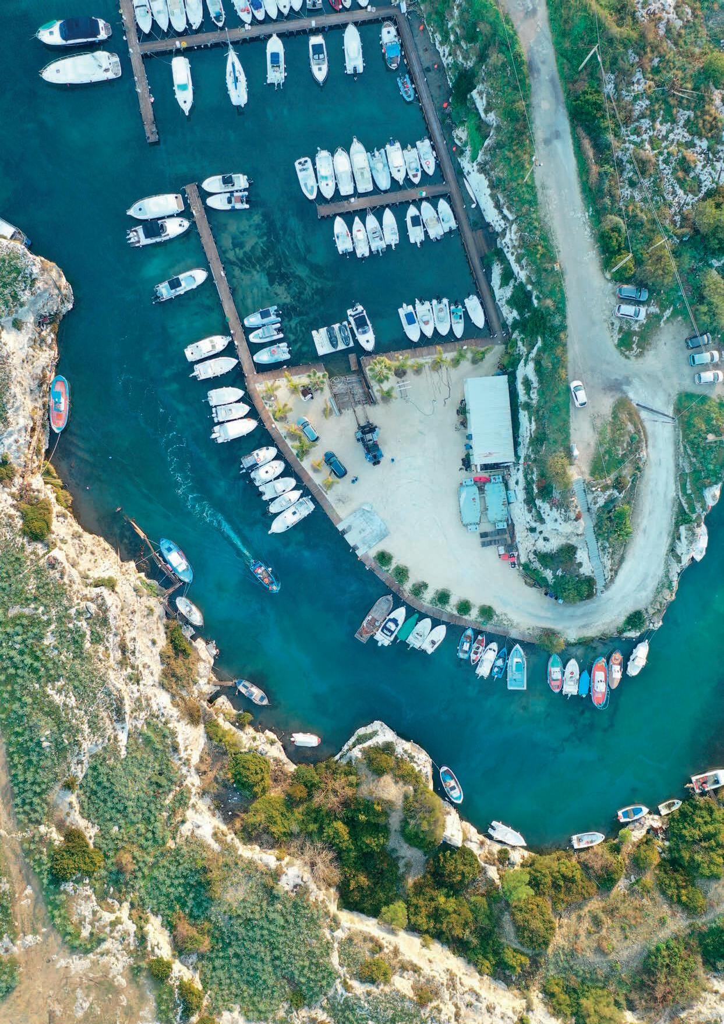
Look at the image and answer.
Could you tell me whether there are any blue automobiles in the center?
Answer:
Yes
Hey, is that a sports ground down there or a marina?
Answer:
marina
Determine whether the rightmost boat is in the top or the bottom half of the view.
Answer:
bottom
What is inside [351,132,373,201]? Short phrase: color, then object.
white boat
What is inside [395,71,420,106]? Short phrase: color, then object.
blue boat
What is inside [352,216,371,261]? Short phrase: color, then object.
white boat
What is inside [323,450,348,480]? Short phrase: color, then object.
blue car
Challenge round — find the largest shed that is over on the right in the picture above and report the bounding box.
[464,375,514,472]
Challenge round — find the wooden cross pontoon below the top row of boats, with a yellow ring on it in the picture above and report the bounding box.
[141,7,400,56]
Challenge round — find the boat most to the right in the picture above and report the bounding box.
[689,765,724,793]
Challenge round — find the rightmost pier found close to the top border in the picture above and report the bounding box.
[399,10,501,338]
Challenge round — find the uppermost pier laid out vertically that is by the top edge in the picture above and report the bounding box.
[120,0,158,143]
